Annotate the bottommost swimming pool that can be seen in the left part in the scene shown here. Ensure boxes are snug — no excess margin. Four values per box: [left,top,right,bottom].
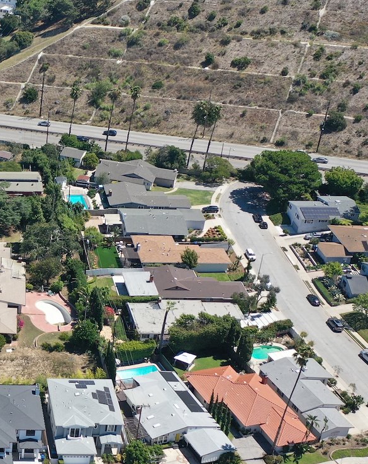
[117,365,158,381]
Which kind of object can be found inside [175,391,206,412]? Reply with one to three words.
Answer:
solar panel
